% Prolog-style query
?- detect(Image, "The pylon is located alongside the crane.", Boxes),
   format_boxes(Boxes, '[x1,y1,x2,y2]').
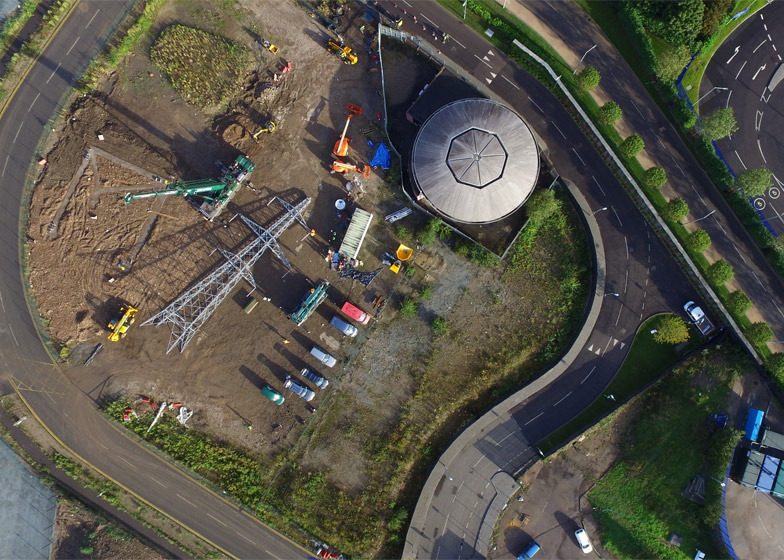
[135,195,312,356]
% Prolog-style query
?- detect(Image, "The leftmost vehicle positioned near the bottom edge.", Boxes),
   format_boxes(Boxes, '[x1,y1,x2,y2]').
[515,536,544,560]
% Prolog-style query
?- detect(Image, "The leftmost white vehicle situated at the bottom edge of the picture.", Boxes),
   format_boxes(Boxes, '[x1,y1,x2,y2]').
[573,527,593,555]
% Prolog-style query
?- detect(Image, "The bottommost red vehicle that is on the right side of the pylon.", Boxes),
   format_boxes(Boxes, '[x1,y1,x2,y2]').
[341,301,370,323]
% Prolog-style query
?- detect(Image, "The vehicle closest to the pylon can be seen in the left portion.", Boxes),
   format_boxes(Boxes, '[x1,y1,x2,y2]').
[109,301,138,339]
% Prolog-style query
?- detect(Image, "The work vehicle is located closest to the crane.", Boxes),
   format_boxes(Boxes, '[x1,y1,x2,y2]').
[254,121,277,139]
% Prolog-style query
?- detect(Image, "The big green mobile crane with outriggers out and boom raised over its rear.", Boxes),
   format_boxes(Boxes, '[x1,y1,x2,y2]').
[120,159,258,232]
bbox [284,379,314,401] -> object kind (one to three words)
car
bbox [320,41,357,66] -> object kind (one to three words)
work vehicle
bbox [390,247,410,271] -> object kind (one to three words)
vehicle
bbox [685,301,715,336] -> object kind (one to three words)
truck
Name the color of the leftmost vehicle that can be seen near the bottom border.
blue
